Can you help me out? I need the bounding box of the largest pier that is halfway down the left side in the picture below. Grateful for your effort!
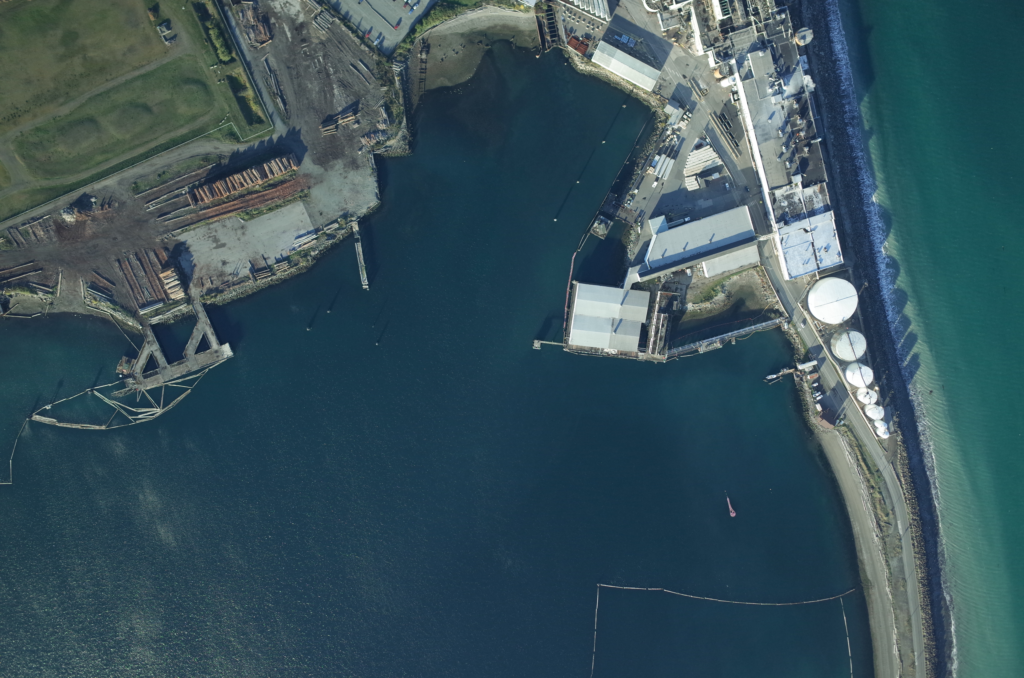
[124,295,234,389]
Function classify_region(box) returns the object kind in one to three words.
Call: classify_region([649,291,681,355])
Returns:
building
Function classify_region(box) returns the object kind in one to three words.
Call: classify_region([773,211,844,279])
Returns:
building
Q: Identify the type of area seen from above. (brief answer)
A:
port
